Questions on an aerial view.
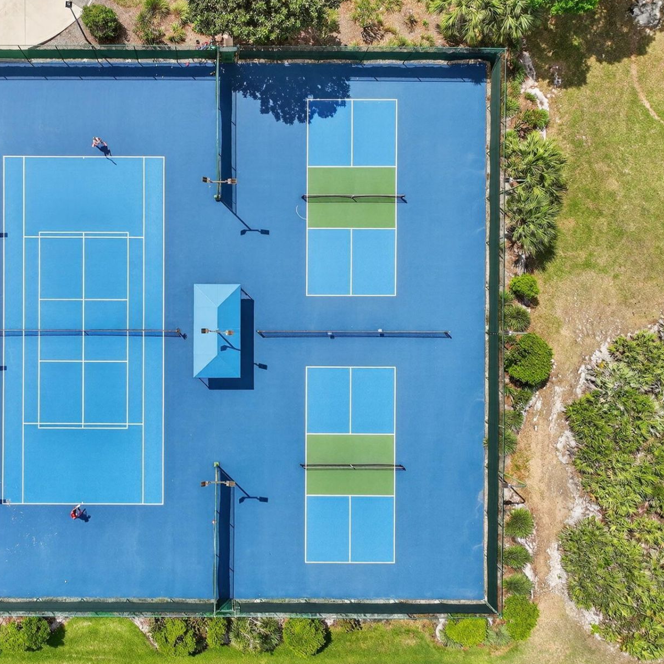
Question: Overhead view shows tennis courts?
Yes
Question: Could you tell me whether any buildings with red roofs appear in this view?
No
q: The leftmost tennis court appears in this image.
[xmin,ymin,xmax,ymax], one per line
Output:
[2,155,165,505]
